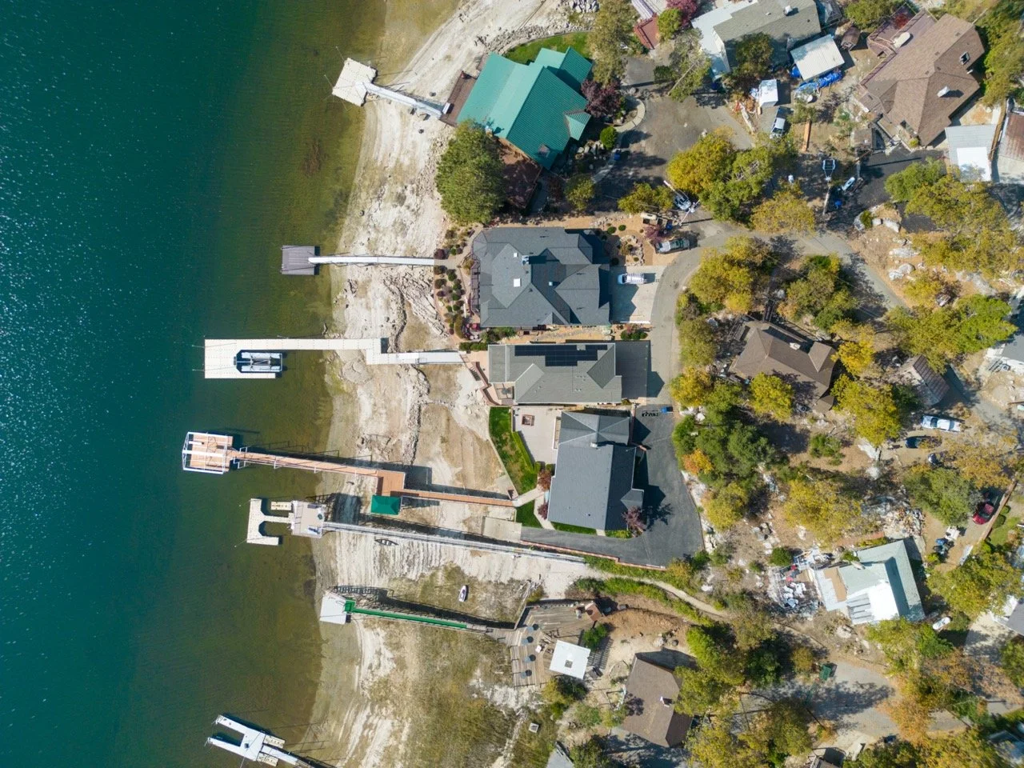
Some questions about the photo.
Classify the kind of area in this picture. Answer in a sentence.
It's a residential area.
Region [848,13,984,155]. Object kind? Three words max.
house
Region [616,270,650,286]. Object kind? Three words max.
vehicle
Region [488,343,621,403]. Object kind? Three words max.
house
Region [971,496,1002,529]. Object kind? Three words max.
car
